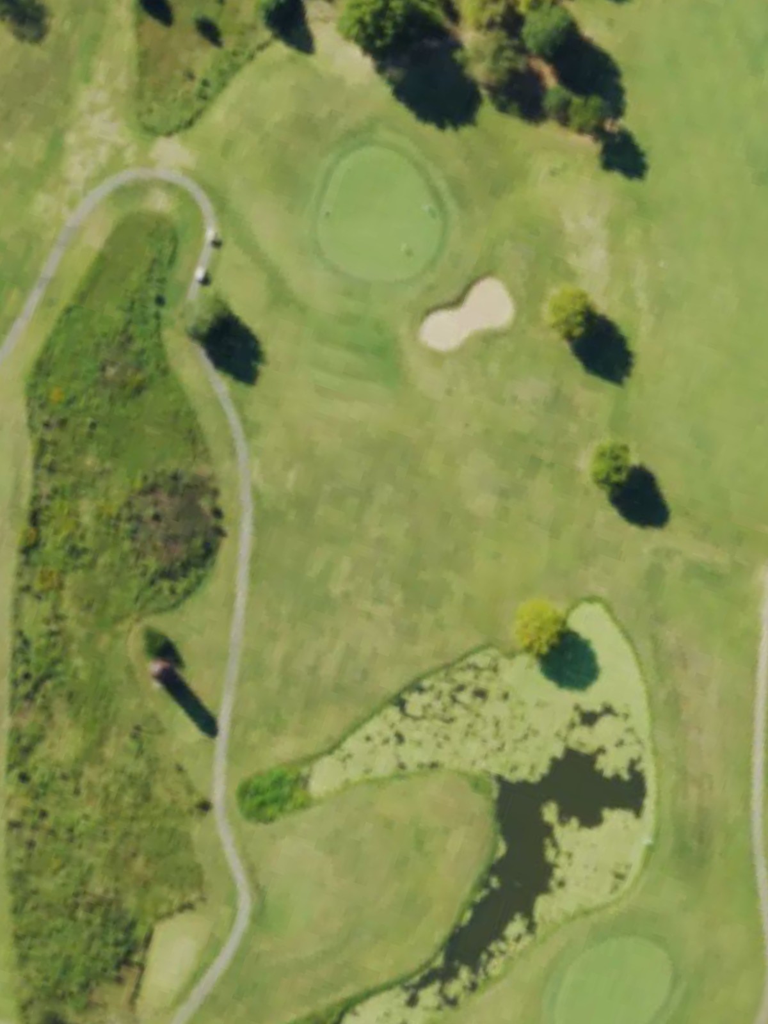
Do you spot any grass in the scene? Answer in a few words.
Yes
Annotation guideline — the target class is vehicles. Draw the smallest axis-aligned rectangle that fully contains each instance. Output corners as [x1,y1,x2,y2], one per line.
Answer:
[206,230,214,244]
[195,267,205,281]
